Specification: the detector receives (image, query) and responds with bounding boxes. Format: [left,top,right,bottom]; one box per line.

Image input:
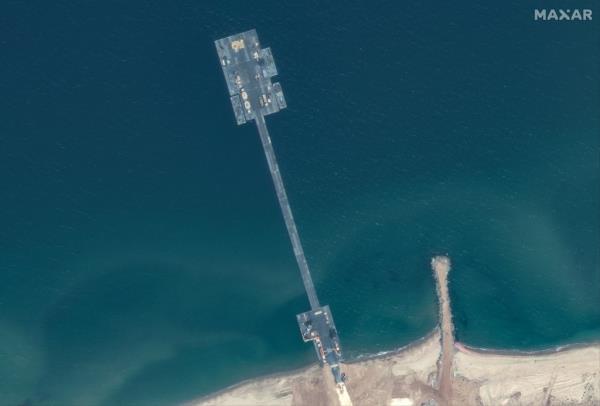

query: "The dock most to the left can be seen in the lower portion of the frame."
[296,306,344,364]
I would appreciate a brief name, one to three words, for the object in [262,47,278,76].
ship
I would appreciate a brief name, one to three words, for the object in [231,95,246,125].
ship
